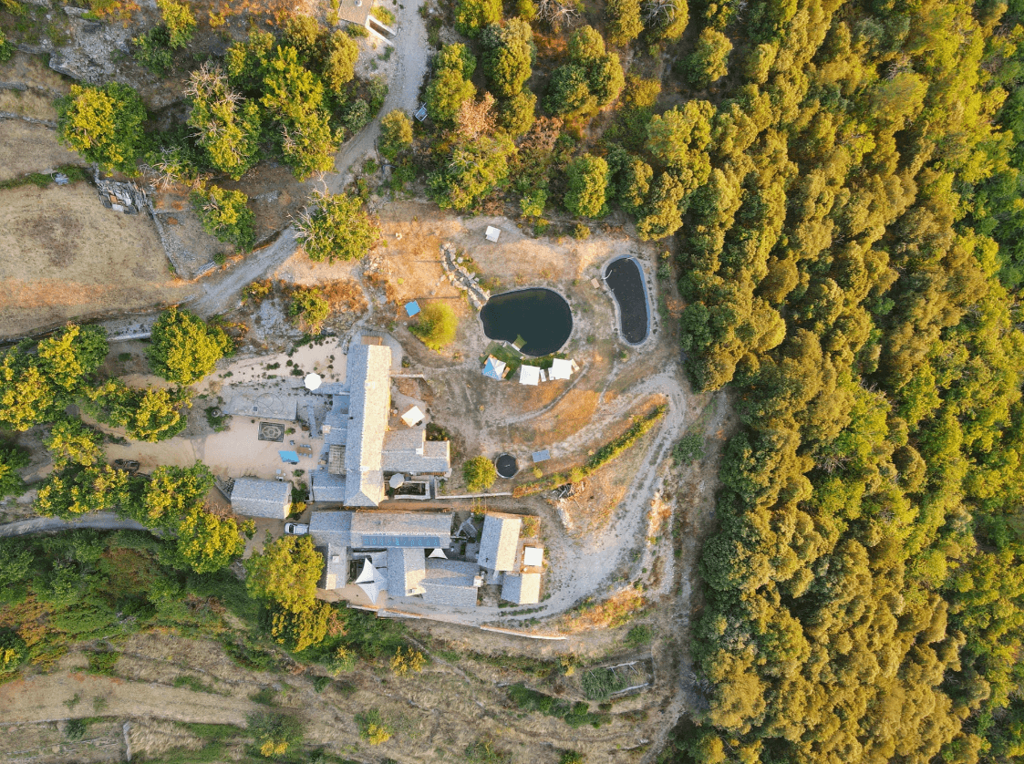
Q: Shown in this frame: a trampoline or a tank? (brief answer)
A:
trampoline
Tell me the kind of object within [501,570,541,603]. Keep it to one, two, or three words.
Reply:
house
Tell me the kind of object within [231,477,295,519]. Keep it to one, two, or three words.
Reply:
building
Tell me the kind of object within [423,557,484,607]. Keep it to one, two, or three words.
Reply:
house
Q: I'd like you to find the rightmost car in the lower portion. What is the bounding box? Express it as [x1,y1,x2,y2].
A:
[285,522,310,534]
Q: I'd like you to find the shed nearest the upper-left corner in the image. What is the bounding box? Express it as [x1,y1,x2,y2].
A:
[338,0,379,34]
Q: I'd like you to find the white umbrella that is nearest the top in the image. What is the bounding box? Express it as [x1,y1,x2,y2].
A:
[305,374,321,390]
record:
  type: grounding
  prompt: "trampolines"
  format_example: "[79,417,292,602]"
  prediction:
[495,454,519,479]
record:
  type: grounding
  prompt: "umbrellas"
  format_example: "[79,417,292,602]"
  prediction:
[305,374,321,390]
[390,474,404,488]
